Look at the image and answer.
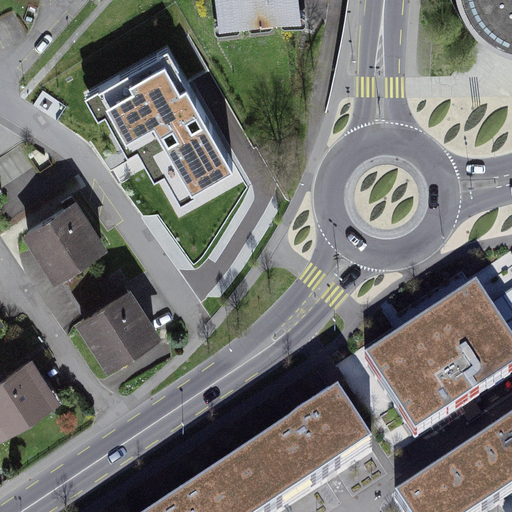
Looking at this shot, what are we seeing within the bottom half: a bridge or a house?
house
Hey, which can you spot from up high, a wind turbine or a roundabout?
roundabout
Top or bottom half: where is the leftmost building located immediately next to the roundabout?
top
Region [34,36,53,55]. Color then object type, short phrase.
white car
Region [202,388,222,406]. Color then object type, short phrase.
black car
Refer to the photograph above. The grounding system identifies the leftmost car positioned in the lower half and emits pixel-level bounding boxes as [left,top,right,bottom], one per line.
[107,448,128,464]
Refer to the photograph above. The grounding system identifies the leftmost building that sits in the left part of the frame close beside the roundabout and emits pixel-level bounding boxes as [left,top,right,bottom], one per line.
[84,48,244,218]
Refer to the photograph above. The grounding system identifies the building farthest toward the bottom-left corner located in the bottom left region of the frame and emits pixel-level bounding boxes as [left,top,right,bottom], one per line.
[0,361,60,444]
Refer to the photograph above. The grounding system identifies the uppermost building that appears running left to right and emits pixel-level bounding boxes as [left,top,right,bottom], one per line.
[214,0,305,39]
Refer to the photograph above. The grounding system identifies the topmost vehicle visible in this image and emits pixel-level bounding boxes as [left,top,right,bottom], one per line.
[24,6,36,25]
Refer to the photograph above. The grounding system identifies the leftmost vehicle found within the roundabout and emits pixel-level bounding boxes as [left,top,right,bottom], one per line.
[346,234,368,253]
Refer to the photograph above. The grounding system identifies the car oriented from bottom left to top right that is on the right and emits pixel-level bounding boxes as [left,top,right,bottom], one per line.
[339,266,360,288]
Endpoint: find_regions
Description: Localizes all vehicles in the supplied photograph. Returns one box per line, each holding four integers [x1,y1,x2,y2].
[339,266,360,288]
[107,448,128,464]
[346,234,368,253]
[24,6,36,25]
[428,186,438,209]
[466,164,486,176]
[152,314,174,330]
[34,36,53,55]
[202,388,222,406]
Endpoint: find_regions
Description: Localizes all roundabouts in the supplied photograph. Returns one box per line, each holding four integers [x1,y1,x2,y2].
[312,122,460,272]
